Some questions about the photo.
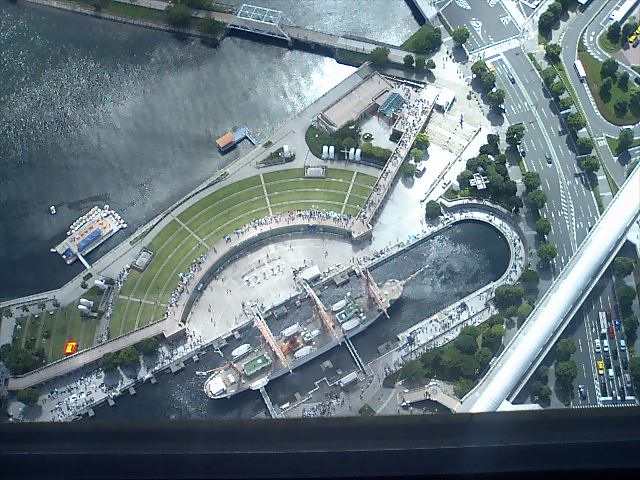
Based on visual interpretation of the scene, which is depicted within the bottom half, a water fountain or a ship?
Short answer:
ship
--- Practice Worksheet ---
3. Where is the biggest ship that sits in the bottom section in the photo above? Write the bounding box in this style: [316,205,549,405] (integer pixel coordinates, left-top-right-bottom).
[167,249,435,419]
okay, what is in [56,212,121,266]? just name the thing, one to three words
pier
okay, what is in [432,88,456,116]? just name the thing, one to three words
building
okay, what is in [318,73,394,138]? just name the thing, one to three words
building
